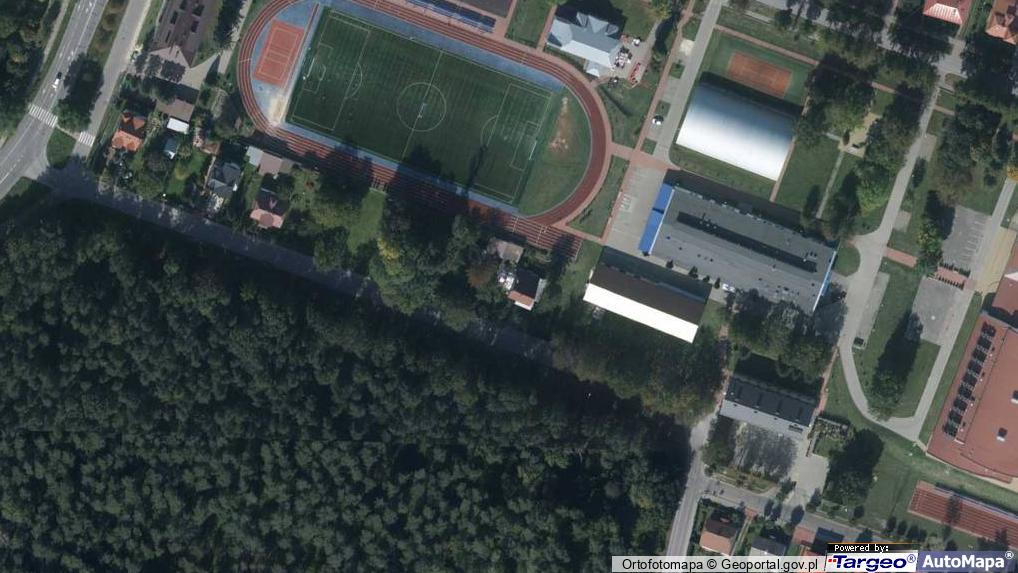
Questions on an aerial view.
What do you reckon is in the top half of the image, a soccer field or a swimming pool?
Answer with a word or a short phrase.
soccer field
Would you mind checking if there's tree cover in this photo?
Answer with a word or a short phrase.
Yes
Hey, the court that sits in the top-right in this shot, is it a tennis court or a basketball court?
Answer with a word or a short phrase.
tennis court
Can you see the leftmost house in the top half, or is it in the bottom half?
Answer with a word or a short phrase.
top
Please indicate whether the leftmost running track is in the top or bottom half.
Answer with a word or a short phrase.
top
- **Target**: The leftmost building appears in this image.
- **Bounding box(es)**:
[112,112,147,151]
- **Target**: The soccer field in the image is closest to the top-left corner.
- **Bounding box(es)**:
[283,7,561,208]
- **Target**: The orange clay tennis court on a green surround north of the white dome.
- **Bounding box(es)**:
[701,29,818,121]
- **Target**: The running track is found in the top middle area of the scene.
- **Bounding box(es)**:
[240,0,605,257]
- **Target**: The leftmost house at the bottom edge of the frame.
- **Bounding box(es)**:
[700,510,741,555]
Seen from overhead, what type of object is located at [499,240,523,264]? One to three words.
shed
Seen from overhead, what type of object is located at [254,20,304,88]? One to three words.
sports court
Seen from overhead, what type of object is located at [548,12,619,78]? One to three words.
building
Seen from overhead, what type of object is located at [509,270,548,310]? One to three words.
house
